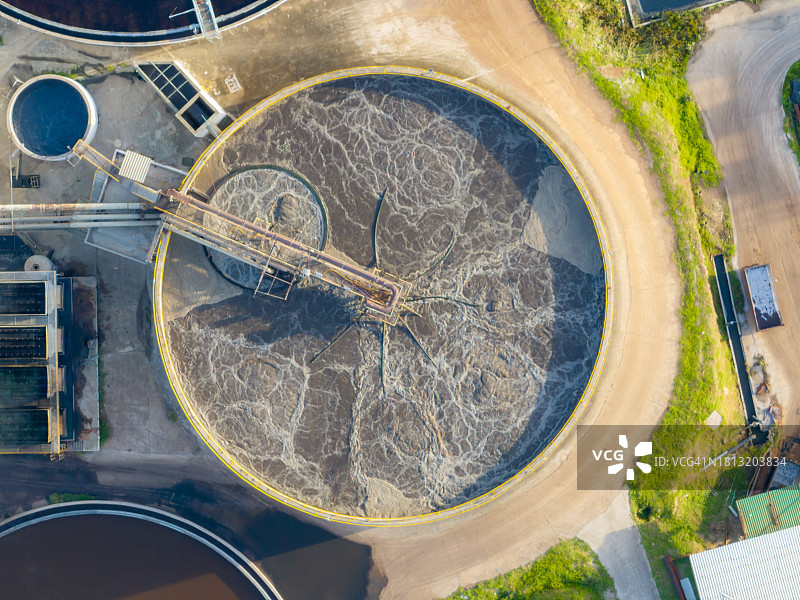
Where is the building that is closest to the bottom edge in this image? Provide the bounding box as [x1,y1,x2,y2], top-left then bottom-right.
[684,523,800,600]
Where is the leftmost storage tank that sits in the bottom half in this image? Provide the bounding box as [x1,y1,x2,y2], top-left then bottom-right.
[0,498,288,600]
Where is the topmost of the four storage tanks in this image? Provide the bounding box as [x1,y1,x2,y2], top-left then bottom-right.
[0,0,293,51]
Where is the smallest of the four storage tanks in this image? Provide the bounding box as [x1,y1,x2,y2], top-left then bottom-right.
[7,73,101,163]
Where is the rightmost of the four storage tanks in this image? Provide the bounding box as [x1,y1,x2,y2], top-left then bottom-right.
[152,67,610,525]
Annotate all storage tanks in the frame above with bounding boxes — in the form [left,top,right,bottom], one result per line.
[152,67,610,525]
[0,498,288,600]
[7,73,101,163]
[0,0,293,51]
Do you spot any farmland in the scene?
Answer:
No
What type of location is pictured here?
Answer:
industrial area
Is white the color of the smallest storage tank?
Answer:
Yes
